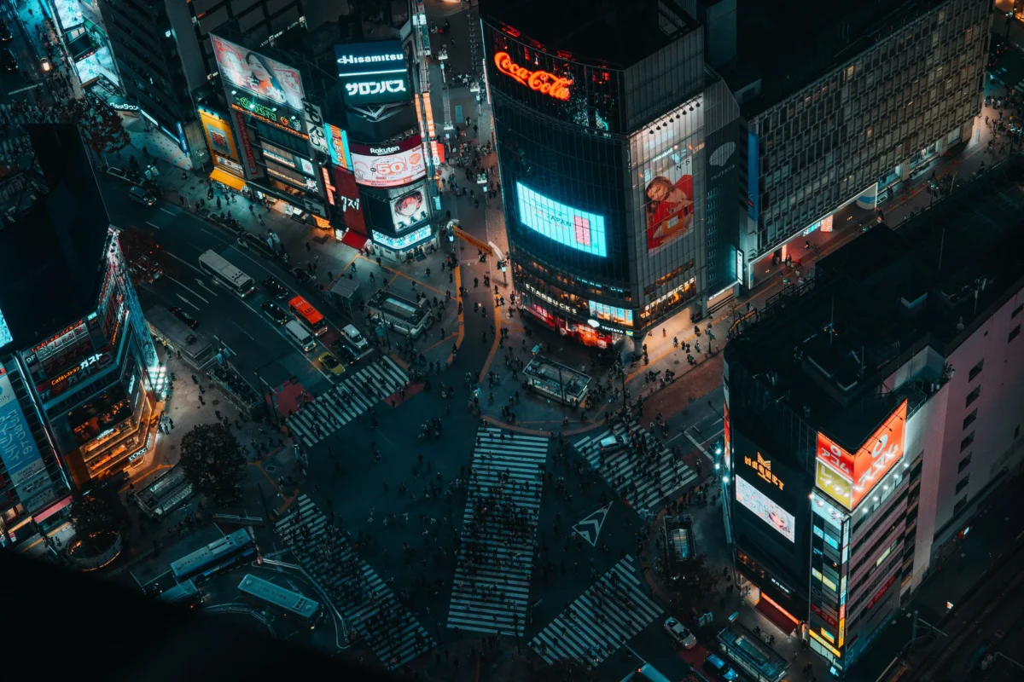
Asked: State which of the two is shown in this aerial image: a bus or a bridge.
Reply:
bus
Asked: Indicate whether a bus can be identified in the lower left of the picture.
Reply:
Yes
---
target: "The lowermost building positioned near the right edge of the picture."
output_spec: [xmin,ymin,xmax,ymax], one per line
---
[719,183,1024,670]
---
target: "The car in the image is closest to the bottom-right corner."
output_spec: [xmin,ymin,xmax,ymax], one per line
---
[706,652,737,681]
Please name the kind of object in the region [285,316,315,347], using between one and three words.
van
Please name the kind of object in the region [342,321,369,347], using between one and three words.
car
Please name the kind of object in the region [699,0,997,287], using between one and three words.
building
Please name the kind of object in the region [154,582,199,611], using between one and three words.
bus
